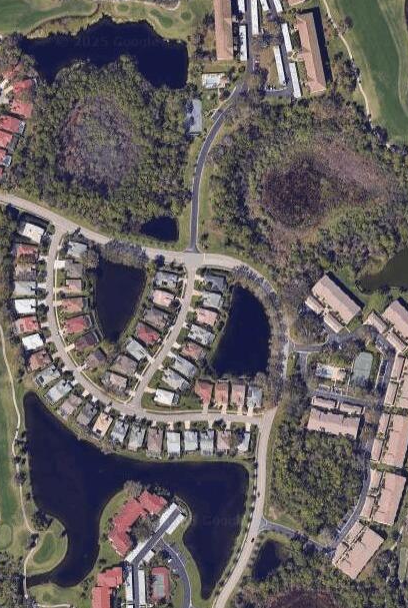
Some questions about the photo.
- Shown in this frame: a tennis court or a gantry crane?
tennis court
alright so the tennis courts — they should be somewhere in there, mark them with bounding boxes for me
[151,568,169,599]
[354,351,374,384]
[188,99,202,135]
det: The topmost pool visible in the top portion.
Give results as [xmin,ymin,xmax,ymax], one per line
[200,72,222,88]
